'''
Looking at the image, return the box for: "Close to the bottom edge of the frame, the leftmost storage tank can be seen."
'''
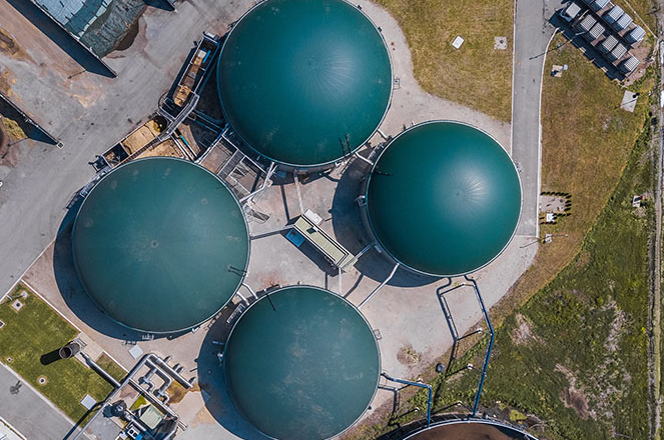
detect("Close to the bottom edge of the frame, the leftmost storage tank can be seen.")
[218,283,386,440]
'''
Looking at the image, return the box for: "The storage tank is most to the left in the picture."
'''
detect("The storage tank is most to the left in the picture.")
[69,157,251,342]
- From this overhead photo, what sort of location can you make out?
industrial area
